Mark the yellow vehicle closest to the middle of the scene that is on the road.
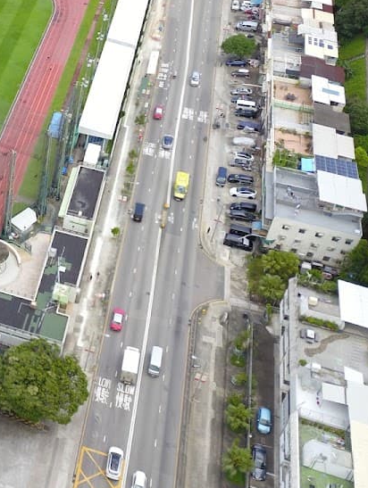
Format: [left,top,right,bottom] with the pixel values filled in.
[174,166,189,195]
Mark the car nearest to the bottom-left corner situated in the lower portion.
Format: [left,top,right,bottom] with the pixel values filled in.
[106,445,125,480]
